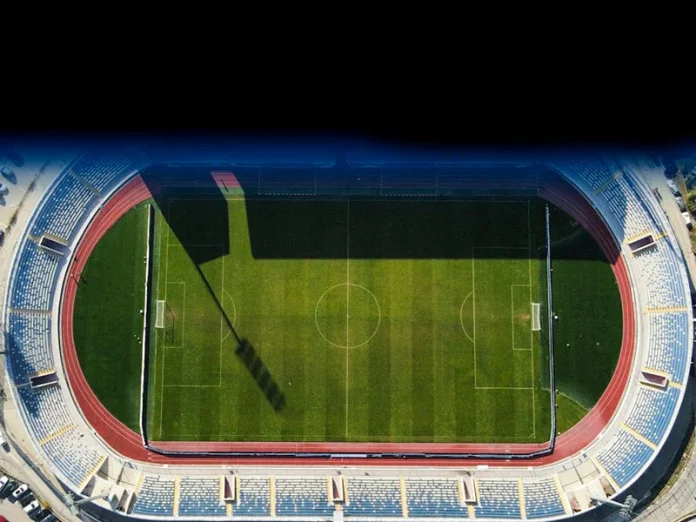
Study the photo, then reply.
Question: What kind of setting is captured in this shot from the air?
sports ground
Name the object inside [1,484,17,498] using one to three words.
vehicle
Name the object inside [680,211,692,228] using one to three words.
vehicle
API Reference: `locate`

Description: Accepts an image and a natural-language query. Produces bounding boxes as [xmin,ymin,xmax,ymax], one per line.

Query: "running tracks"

[61,169,636,468]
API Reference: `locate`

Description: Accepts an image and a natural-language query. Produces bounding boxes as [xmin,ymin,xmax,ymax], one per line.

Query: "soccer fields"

[149,196,546,445]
